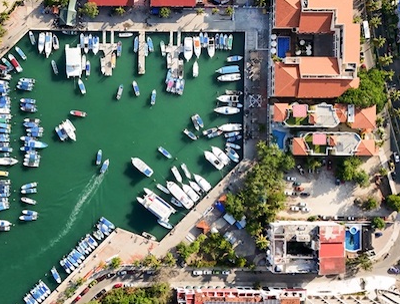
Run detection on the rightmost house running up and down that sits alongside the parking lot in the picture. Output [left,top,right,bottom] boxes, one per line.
[358,223,376,258]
